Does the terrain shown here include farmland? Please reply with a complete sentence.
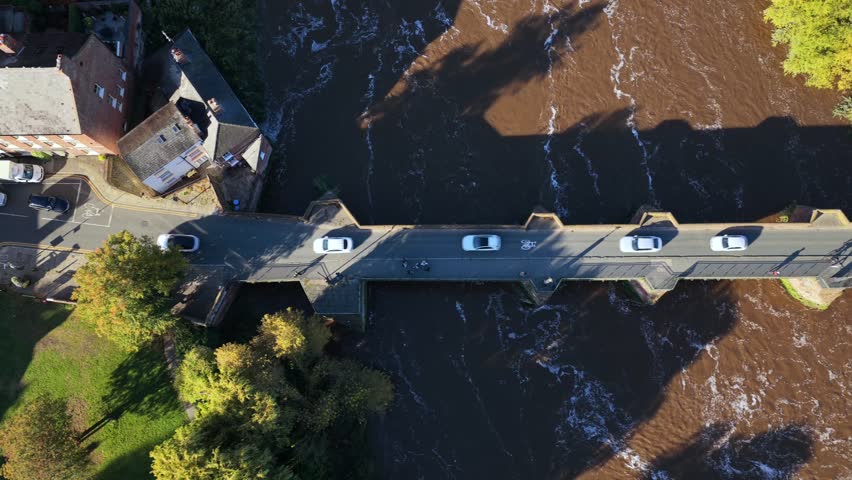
No, the picture contains no farmland.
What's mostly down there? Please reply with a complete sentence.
The scene is dominated by water.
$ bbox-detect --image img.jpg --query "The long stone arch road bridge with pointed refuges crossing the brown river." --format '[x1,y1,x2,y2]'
[220,195,852,329]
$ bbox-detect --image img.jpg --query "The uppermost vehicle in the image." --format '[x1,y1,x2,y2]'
[0,159,44,183]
